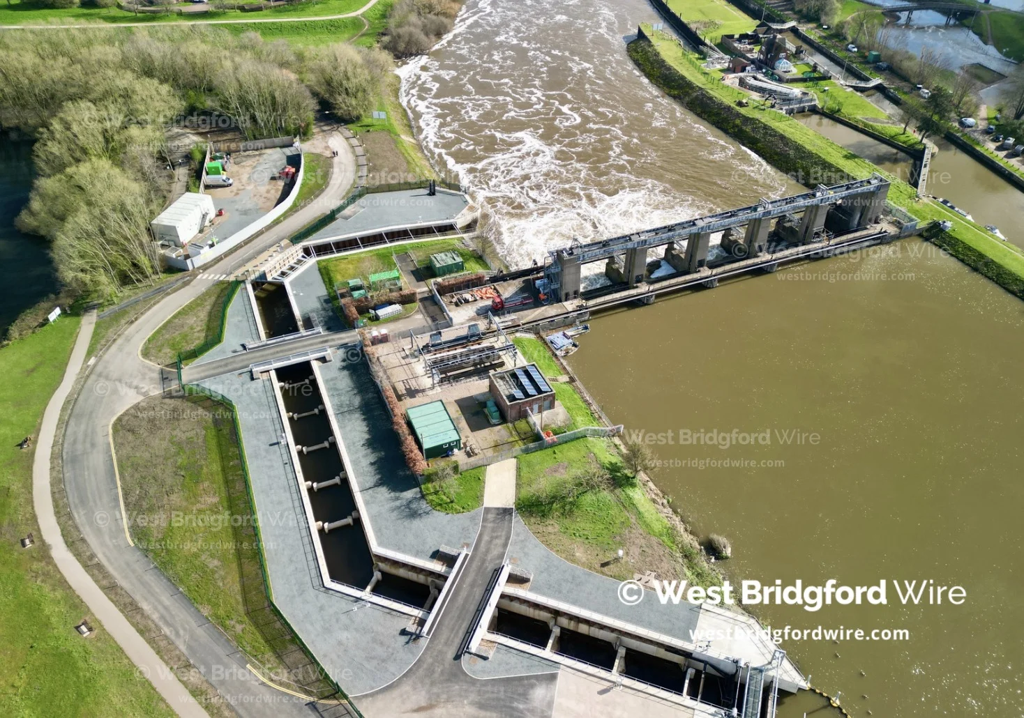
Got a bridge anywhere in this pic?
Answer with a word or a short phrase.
Yes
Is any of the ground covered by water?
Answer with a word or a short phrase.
Yes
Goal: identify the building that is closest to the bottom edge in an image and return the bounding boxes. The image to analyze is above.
[400,395,461,458]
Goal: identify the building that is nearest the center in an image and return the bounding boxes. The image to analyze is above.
[485,359,556,422]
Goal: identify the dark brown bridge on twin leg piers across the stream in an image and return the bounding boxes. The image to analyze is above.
[879,4,982,24]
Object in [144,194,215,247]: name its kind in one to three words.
building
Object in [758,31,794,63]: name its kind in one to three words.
house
